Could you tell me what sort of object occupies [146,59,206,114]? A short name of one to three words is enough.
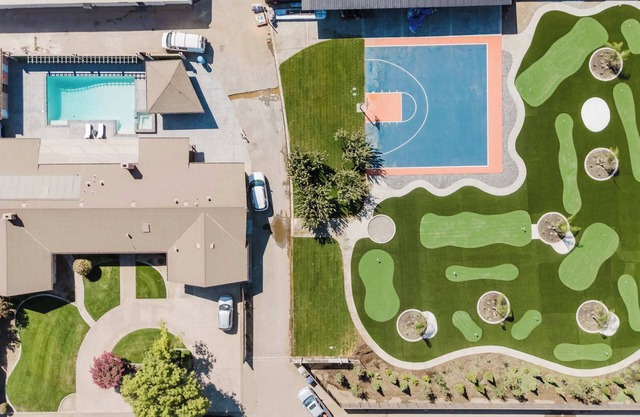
building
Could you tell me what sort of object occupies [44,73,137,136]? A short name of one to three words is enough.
swimming pool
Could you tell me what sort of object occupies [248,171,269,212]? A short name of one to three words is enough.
car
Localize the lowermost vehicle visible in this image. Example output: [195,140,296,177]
[296,387,328,417]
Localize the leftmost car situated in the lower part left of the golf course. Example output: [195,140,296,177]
[216,294,234,330]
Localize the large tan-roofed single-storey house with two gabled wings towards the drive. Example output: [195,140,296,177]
[0,138,248,297]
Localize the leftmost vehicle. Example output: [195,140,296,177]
[162,31,209,54]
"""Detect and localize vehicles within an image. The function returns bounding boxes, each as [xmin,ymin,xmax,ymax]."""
[248,171,269,212]
[344,9,359,19]
[162,31,209,54]
[216,294,234,330]
[296,387,328,417]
